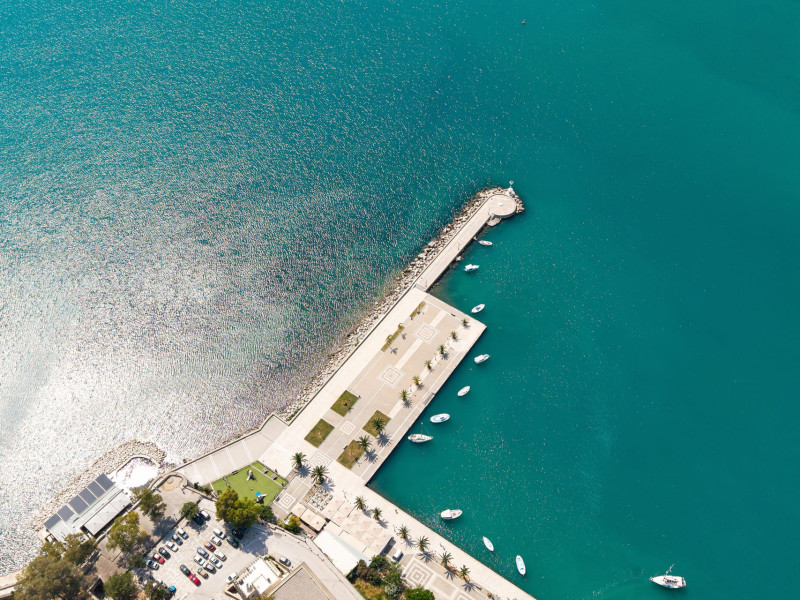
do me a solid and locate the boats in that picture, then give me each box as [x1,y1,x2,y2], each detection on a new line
[473,352,493,362]
[649,570,688,588]
[457,385,472,395]
[430,412,454,421]
[440,507,466,520]
[464,262,480,271]
[408,425,433,441]
[471,303,486,312]
[483,536,495,552]
[512,548,527,577]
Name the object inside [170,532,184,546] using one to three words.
car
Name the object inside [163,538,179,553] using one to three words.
car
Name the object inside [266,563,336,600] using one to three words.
building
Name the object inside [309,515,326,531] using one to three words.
umbrella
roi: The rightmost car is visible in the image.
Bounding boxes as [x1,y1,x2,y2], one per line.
[390,546,405,562]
